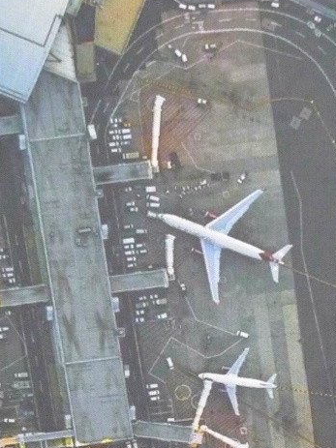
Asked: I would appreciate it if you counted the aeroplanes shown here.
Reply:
two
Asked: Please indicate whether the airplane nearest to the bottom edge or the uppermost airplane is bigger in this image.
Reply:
the uppermost airplane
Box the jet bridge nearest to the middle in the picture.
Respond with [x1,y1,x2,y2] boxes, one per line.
[159,230,175,278]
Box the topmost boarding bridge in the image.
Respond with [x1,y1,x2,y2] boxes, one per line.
[148,92,166,171]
